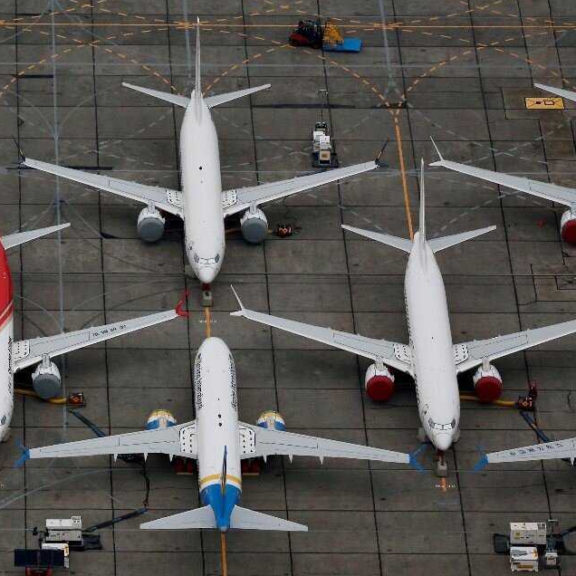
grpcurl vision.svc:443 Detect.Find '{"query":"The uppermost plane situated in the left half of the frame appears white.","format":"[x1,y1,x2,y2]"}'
[11,15,389,296]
